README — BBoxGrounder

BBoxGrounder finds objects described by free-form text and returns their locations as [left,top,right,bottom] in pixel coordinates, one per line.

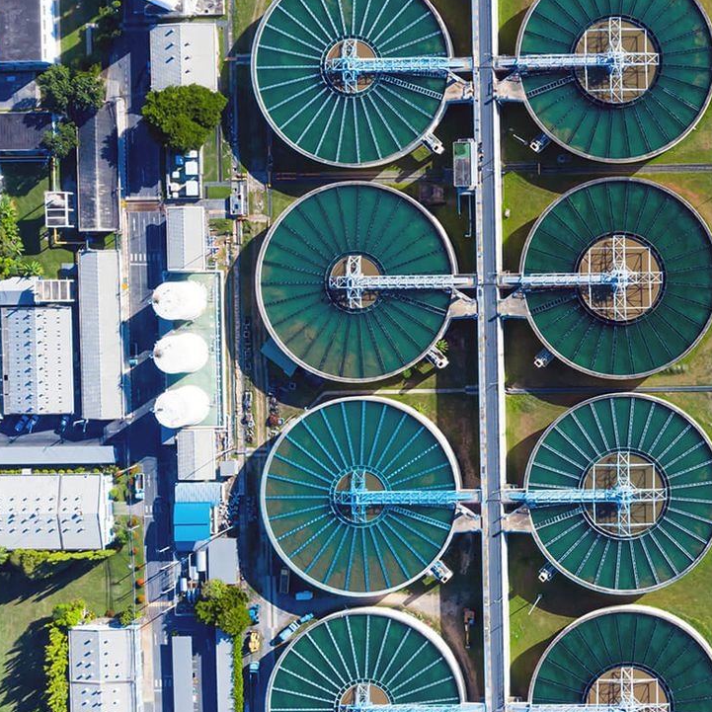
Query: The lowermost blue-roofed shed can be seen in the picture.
[173,503,218,551]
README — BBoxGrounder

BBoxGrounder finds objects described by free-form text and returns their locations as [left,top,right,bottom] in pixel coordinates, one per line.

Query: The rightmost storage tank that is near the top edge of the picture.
[503,0,712,163]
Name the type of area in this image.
industrial area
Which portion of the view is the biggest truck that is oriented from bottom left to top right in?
bottom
